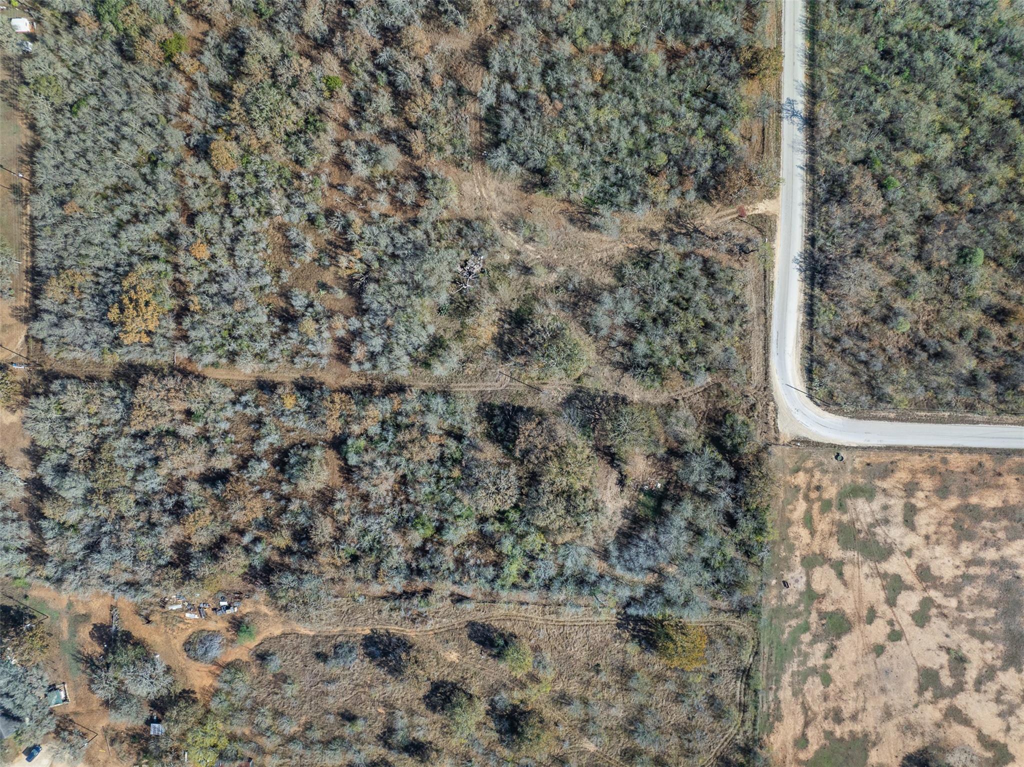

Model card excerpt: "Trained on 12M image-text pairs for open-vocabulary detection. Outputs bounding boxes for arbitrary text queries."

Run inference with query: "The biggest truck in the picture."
[21,743,42,765]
